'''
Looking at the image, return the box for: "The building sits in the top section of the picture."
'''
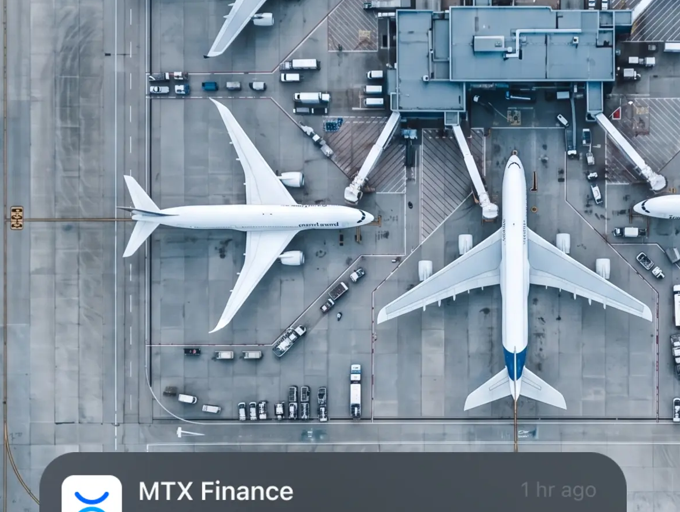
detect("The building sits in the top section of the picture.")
[385,0,633,130]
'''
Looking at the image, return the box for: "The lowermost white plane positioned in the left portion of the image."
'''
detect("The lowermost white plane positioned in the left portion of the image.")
[120,100,373,333]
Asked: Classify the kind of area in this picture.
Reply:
airport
